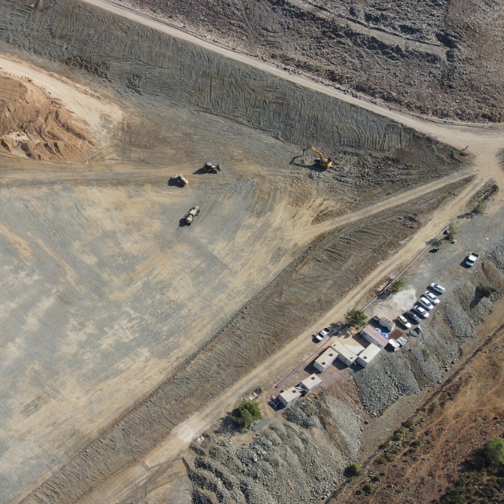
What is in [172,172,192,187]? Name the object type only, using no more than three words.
work vehicle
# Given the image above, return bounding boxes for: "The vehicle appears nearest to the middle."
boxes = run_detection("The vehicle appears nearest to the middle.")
[186,204,202,224]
